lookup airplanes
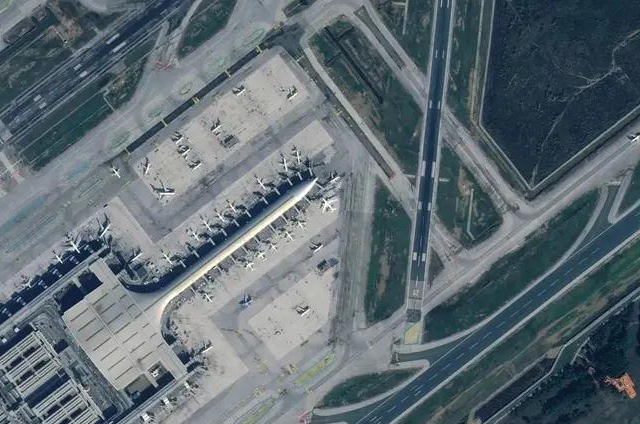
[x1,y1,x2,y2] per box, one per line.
[64,234,80,252]
[202,344,215,353]
[286,230,296,242]
[52,252,63,263]
[270,242,279,253]
[292,149,304,162]
[181,146,193,155]
[190,229,200,241]
[313,243,325,252]
[159,185,176,201]
[288,90,300,100]
[101,223,114,237]
[174,134,187,144]
[23,275,33,287]
[236,86,248,96]
[329,174,341,183]
[131,251,143,261]
[256,178,266,189]
[227,201,237,213]
[245,261,256,272]
[214,210,224,221]
[110,166,120,177]
[323,196,339,213]
[143,162,154,175]
[192,162,204,170]
[202,219,212,230]
[212,123,224,132]
[241,297,254,305]
[280,158,291,170]
[301,307,313,316]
